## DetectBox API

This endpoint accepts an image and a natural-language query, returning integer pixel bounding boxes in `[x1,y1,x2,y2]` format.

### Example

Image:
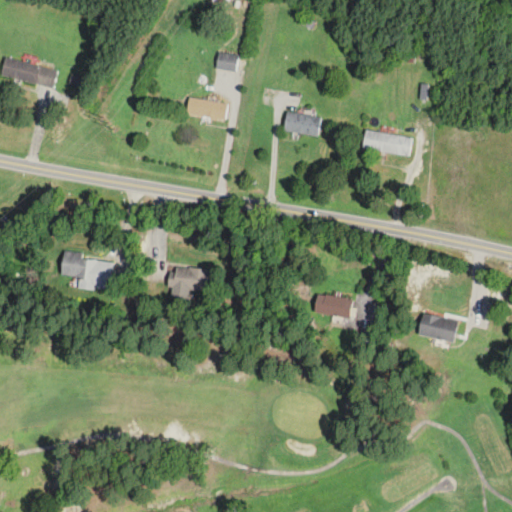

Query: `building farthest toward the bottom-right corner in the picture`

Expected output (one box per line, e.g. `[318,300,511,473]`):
[419,313,459,342]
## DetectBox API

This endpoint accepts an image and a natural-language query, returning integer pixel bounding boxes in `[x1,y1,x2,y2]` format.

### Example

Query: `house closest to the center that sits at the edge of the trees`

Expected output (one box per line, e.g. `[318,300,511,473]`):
[168,267,206,300]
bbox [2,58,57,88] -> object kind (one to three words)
house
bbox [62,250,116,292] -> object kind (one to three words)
house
